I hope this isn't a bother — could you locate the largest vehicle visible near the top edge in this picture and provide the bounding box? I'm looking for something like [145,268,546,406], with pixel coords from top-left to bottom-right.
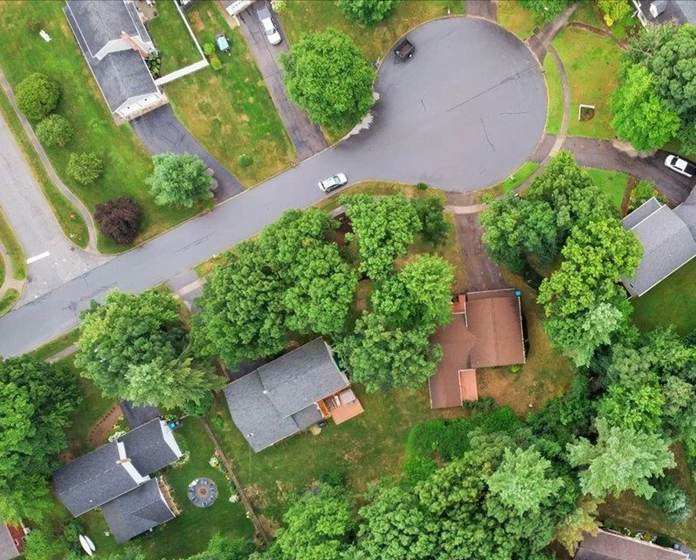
[255,1,280,44]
